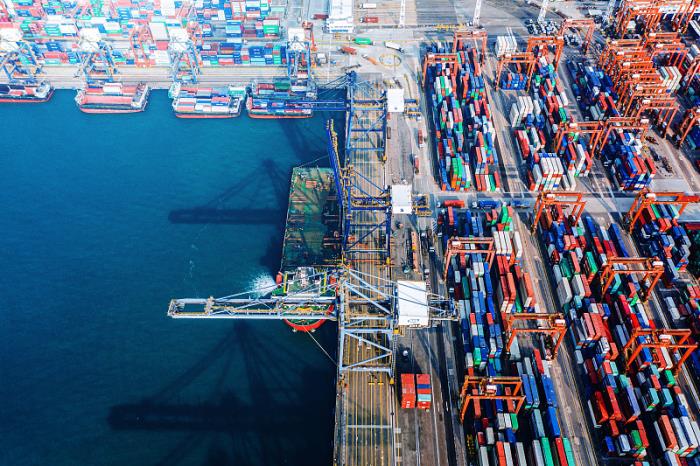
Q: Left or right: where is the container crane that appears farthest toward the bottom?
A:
right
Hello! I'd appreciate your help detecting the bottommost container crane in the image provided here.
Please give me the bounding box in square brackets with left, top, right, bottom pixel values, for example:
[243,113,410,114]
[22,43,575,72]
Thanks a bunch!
[459,375,531,424]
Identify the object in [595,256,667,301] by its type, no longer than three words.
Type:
container crane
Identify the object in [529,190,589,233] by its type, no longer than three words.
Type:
container crane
